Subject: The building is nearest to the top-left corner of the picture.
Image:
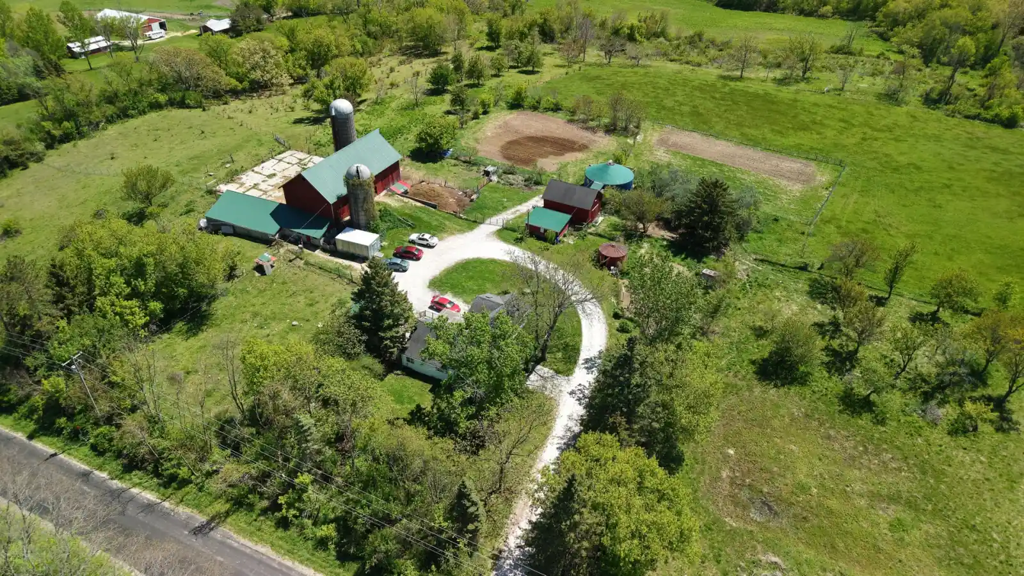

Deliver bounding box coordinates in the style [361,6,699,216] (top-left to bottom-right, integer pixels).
[73,40,112,61]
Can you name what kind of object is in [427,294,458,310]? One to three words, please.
car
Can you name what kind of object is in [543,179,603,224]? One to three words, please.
building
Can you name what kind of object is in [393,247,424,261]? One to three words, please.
car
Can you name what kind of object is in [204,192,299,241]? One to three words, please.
shed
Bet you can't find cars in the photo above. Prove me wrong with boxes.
[393,247,424,261]
[427,294,458,310]
[385,258,411,272]
[409,234,438,248]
